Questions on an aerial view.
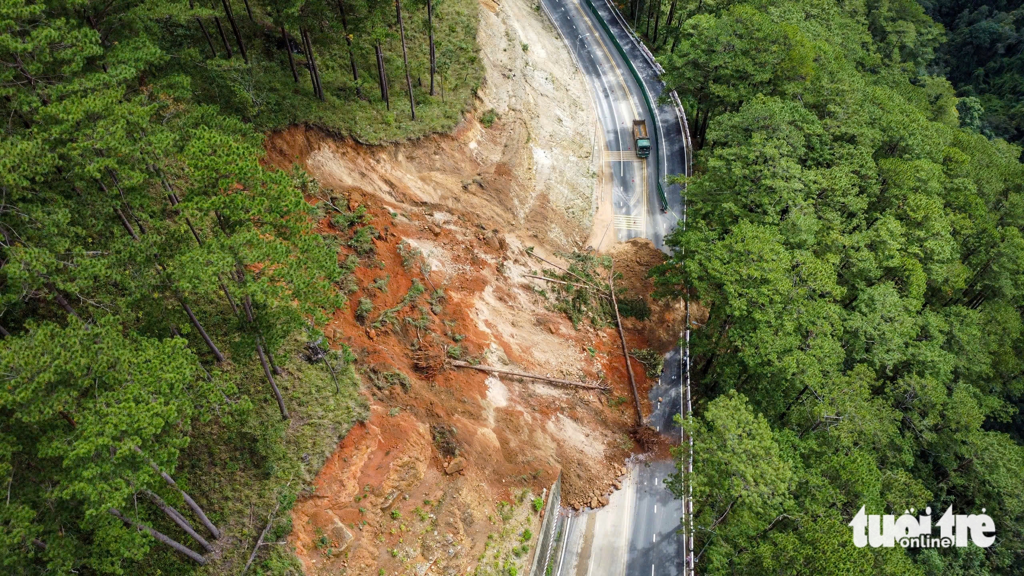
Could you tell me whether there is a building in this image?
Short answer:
No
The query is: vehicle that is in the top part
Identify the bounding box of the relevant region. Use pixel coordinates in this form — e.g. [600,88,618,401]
[635,117,654,152]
